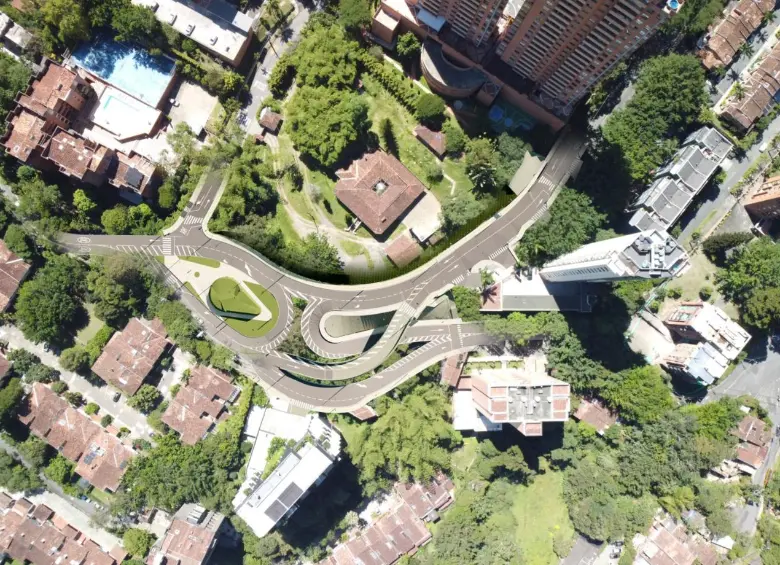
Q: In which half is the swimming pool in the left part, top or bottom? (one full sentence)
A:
It is in the top half that the swimming pool in the left part appears.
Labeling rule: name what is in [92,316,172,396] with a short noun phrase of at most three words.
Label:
house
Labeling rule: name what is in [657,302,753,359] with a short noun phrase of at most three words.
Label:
building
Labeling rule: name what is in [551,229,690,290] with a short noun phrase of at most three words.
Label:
building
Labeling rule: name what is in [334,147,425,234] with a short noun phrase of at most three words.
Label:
house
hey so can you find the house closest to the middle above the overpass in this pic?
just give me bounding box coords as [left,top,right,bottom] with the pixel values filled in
[385,235,422,267]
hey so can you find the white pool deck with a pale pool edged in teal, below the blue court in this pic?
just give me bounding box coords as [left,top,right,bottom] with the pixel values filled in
[88,86,165,145]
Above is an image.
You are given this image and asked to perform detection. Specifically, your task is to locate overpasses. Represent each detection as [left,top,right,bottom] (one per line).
[277,303,417,380]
